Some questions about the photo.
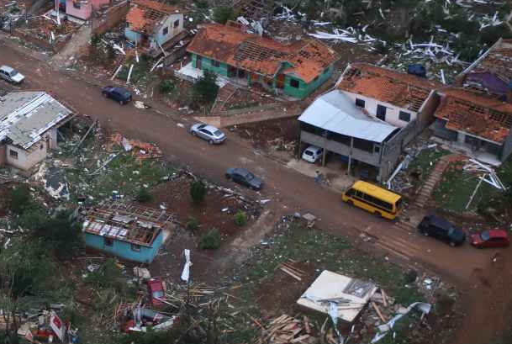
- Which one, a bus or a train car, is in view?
bus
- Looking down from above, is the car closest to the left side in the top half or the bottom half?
top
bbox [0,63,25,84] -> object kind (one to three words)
car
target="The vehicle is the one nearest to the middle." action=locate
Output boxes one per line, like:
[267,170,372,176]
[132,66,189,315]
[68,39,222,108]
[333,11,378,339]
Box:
[226,167,264,190]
